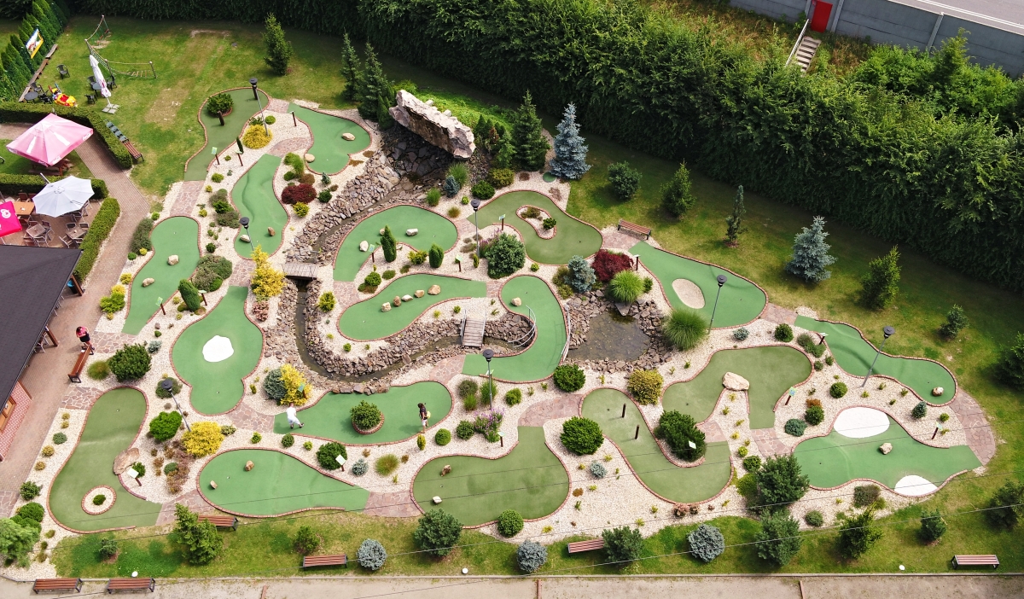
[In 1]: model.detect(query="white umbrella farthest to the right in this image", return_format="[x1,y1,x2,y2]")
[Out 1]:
[87,54,124,111]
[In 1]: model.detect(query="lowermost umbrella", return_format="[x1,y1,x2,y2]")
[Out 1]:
[0,202,23,245]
